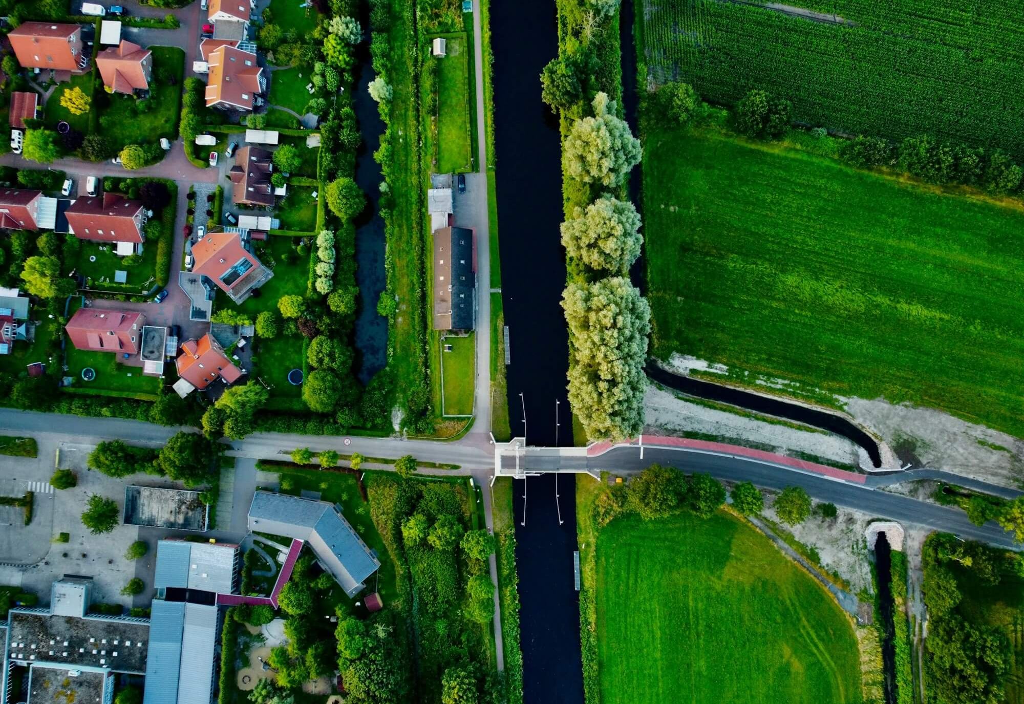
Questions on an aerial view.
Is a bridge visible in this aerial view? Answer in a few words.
Yes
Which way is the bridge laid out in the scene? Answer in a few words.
from left to right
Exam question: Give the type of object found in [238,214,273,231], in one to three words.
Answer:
building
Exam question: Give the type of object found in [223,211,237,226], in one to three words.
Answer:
car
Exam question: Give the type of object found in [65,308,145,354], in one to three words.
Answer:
house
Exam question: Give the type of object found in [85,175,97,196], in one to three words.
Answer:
vehicle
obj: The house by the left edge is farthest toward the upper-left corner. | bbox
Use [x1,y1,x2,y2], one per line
[8,22,91,72]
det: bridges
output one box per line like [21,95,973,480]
[489,431,600,487]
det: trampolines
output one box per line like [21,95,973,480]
[287,369,303,385]
[58,121,69,133]
[79,368,95,381]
